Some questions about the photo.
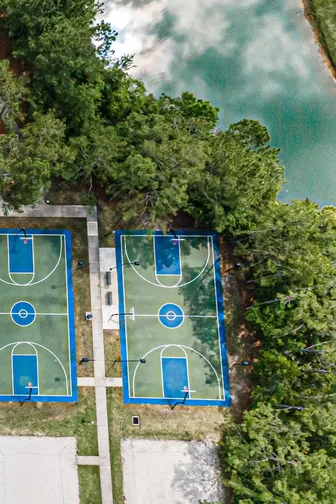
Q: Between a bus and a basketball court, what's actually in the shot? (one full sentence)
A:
It is a basketball court that can be seen here.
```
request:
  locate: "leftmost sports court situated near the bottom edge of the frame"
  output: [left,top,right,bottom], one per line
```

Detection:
[0,435,79,504]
